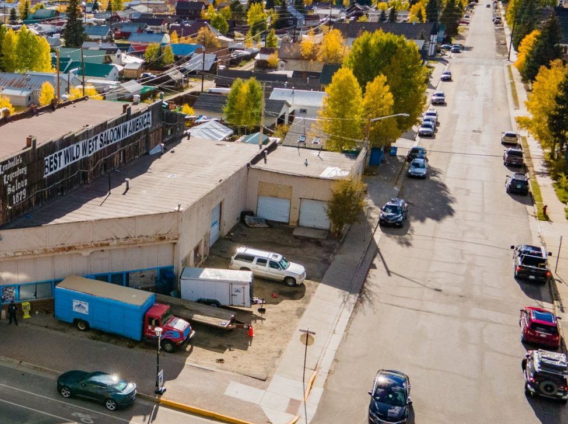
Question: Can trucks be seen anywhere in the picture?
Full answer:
Yes, a truck is visible in the scene.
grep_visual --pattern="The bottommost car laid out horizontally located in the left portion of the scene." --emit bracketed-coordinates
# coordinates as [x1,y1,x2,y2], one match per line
[54,370,139,414]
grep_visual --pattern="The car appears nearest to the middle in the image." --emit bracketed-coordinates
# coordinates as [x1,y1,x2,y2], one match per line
[228,243,301,284]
